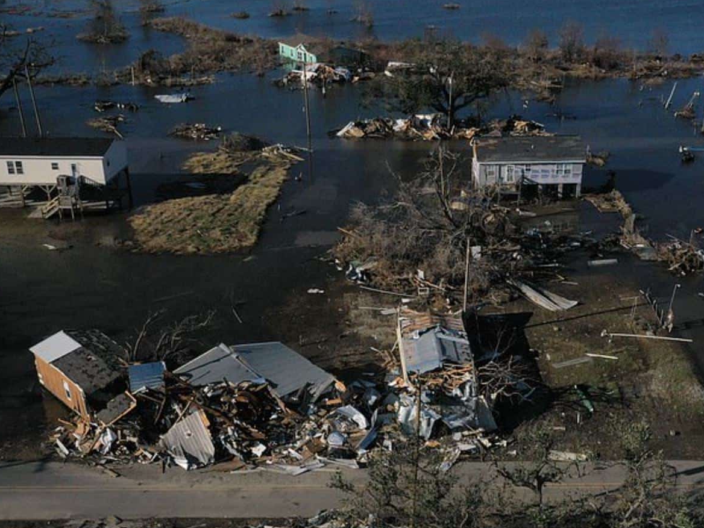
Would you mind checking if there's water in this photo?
Yes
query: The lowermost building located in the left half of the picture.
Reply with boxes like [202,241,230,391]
[30,328,128,420]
